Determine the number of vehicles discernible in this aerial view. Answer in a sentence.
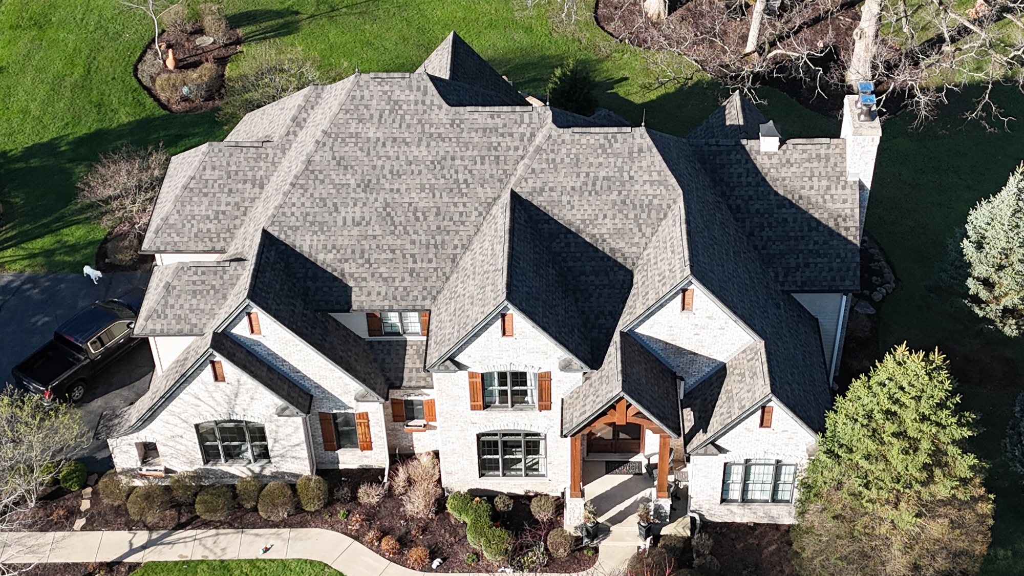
In total, there is 1 vehicle in the scene.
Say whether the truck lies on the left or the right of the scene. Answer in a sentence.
The truck appears in the left half of the scene.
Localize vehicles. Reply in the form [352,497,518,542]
[10,283,151,416]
